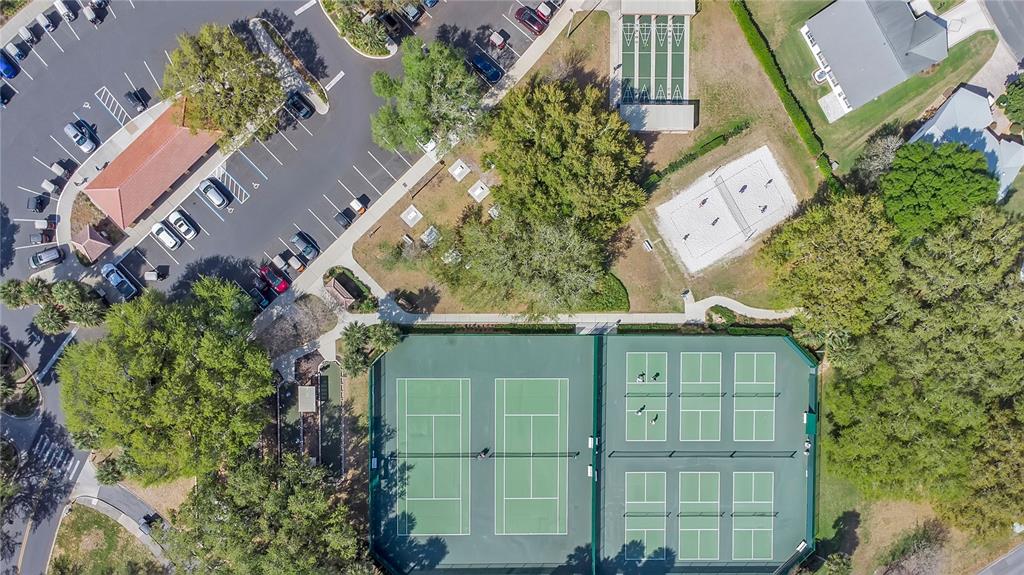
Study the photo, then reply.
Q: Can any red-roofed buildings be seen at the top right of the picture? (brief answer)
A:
No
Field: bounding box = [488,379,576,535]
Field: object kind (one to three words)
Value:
tennis court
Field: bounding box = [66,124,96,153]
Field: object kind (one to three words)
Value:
car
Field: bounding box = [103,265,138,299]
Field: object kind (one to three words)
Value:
truck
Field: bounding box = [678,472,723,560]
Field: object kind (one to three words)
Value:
sports court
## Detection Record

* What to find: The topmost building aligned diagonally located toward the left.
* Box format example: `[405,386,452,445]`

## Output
[84,97,226,229]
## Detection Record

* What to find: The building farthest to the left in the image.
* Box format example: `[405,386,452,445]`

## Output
[71,224,118,263]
